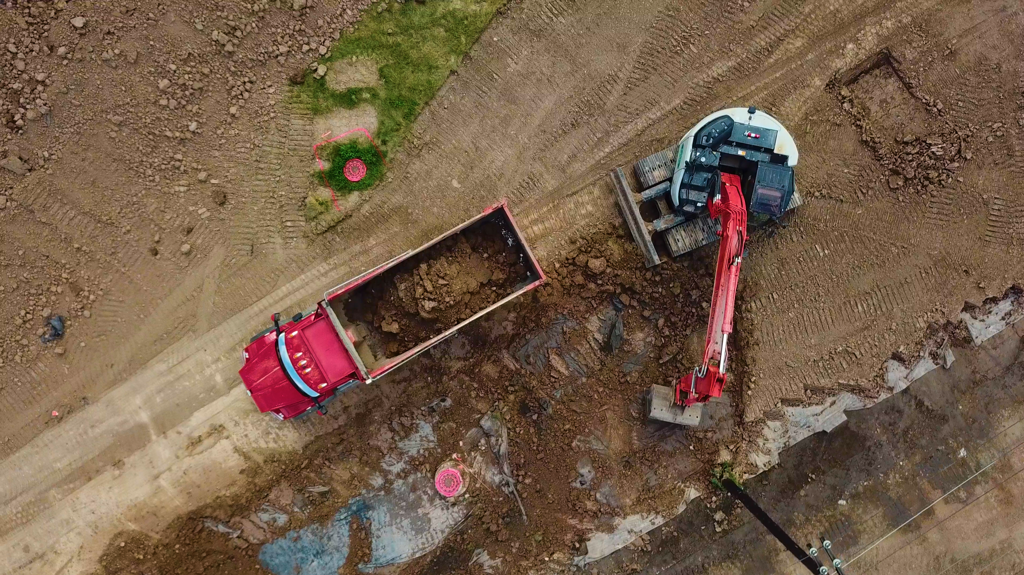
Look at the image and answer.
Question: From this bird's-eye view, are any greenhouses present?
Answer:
No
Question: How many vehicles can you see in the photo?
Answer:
2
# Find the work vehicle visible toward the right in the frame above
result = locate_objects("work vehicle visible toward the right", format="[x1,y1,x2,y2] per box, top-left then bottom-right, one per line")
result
[609,106,808,426]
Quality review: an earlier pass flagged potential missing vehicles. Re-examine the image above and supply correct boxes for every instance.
[239,197,552,425]
[609,106,808,426]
